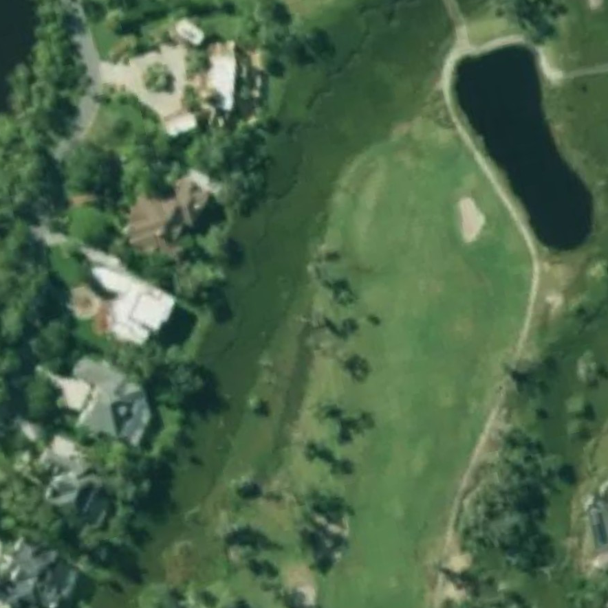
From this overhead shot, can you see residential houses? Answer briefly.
Yes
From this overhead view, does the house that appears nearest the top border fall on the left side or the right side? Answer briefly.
left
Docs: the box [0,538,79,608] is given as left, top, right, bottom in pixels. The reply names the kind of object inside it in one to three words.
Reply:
house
